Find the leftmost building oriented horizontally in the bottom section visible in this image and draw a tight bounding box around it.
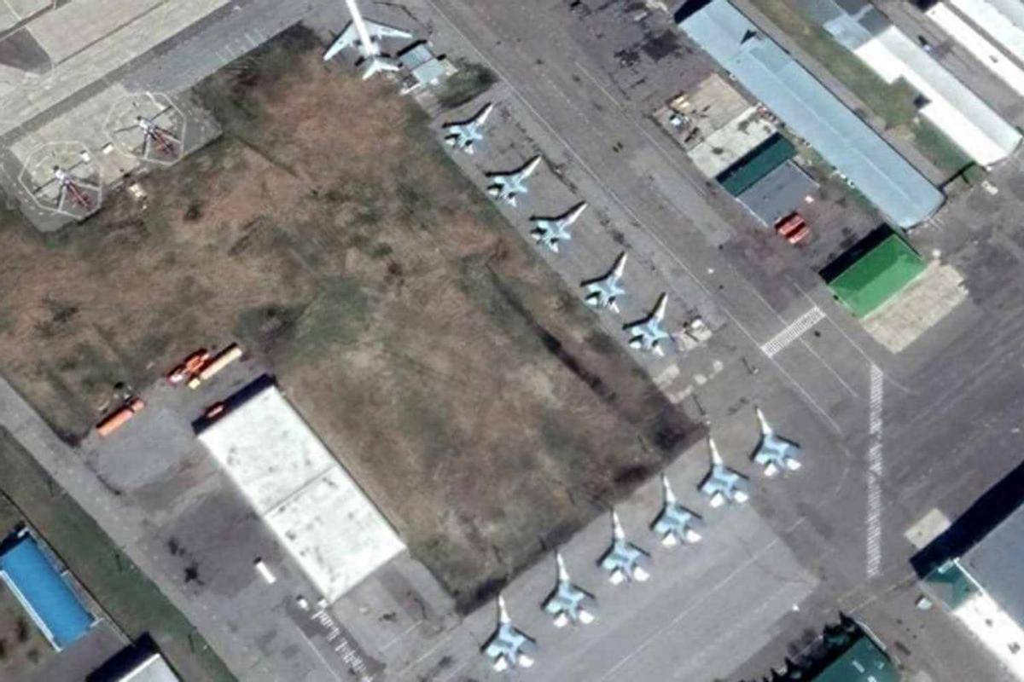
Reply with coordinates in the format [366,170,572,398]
[114,652,180,682]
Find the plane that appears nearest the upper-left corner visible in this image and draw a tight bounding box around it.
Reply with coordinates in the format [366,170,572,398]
[325,0,414,79]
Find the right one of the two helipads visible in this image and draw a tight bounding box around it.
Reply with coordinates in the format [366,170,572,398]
[104,93,187,164]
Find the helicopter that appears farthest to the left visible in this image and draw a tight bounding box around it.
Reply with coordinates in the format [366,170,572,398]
[37,153,94,211]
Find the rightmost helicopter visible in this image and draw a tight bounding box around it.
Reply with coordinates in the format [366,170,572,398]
[122,102,179,159]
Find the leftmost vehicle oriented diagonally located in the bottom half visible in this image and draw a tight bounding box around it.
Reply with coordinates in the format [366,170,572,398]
[97,400,146,435]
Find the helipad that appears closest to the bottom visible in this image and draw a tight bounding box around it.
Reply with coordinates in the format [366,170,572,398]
[19,140,102,218]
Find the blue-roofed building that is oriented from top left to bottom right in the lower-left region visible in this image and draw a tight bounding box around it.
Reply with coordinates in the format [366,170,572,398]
[0,528,104,654]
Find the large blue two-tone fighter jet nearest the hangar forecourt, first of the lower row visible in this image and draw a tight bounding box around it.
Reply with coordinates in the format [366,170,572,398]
[484,592,536,671]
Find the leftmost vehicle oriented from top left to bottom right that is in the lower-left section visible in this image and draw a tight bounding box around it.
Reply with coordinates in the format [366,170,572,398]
[255,560,276,584]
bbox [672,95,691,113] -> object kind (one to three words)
vehicle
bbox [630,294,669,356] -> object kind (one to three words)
airplane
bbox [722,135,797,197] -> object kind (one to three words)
shed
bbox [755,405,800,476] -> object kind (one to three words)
airplane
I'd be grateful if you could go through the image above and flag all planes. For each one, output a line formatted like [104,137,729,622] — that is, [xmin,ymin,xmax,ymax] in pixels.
[602,509,649,584]
[630,294,669,356]
[447,105,491,156]
[587,252,625,313]
[755,405,800,476]
[492,158,538,208]
[484,592,536,671]
[535,205,585,254]
[325,0,414,79]
[701,434,748,507]
[653,472,701,546]
[545,554,595,628]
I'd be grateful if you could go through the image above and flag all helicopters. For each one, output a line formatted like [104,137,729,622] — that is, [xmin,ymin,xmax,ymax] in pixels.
[122,102,179,159]
[37,153,94,211]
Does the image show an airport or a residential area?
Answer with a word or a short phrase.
airport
